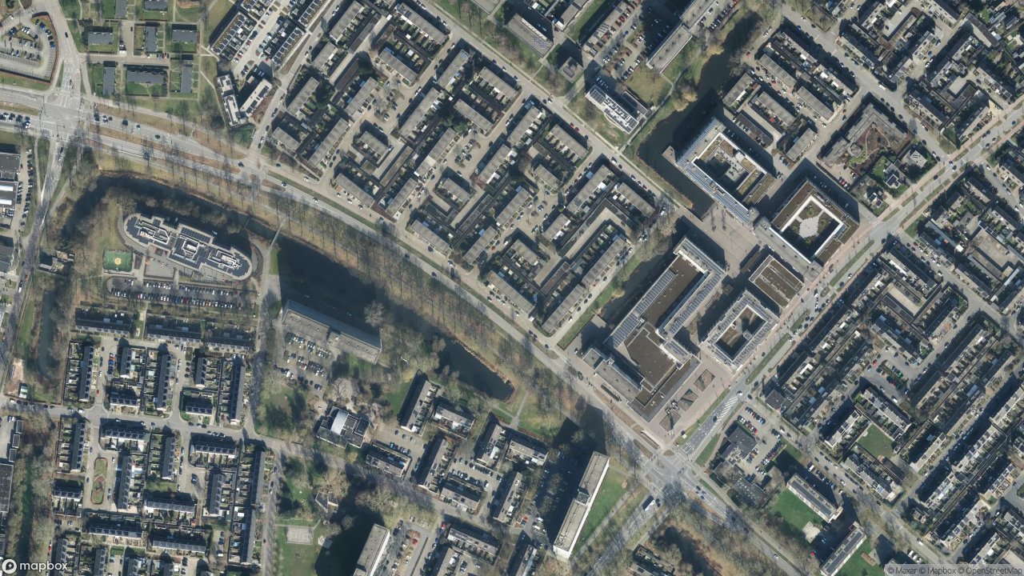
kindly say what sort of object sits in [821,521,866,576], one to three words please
building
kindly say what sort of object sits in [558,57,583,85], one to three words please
building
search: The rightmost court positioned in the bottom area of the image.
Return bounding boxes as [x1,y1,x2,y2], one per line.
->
[286,527,313,544]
